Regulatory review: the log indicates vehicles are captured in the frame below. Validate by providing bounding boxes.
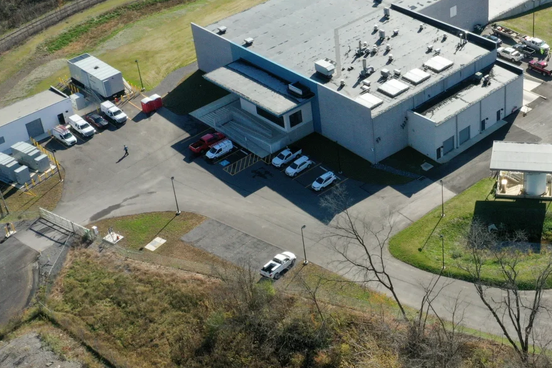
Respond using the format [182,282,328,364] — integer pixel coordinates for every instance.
[281,152,315,176]
[510,40,540,56]
[267,144,307,168]
[519,35,551,52]
[525,59,552,75]
[483,32,505,46]
[257,248,302,279]
[203,132,238,159]
[308,166,340,190]
[84,111,111,129]
[97,96,128,122]
[50,120,79,145]
[497,45,526,61]
[64,109,96,135]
